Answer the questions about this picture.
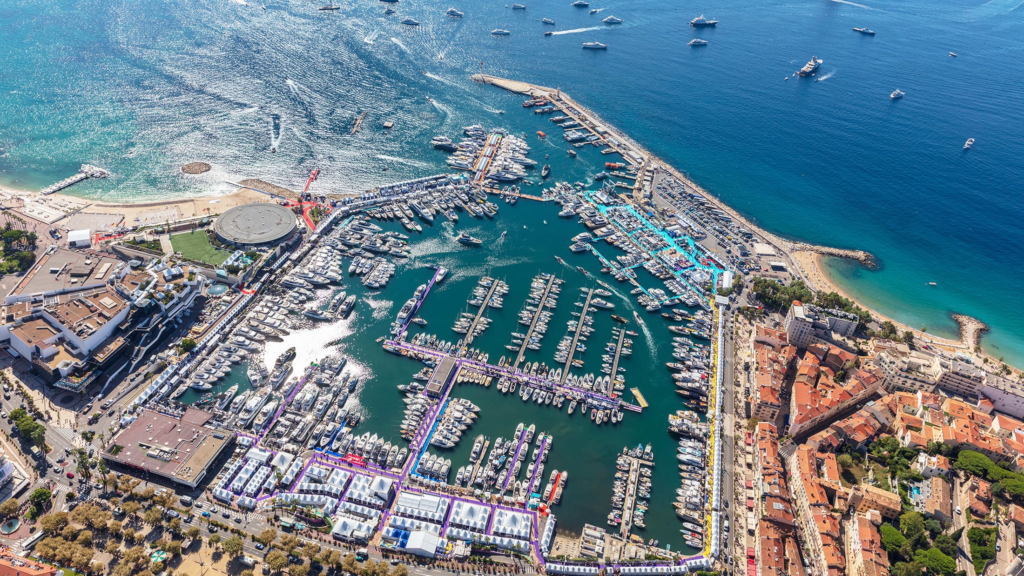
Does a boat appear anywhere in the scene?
Yes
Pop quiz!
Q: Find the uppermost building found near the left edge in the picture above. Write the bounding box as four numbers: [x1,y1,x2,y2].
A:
[21,202,65,228]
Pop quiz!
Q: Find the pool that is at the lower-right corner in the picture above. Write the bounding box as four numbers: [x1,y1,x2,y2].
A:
[908,480,927,508]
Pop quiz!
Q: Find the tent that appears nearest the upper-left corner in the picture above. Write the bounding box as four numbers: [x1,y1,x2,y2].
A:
[67,230,93,248]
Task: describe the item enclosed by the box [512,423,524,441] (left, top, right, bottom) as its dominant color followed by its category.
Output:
white boat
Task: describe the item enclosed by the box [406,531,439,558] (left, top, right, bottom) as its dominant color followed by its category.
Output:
white tent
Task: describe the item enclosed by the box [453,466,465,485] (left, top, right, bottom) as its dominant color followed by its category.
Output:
white boat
